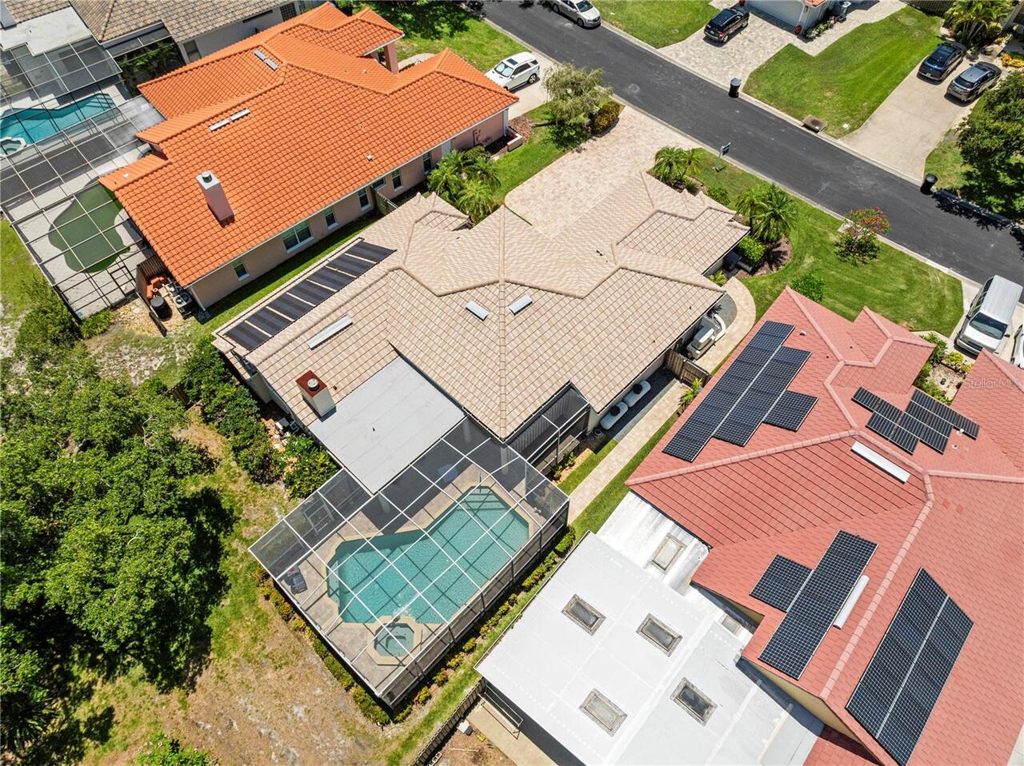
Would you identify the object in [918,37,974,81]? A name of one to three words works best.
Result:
car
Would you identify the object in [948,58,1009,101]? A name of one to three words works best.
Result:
car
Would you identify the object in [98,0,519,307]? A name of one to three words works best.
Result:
house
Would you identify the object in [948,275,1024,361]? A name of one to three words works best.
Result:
van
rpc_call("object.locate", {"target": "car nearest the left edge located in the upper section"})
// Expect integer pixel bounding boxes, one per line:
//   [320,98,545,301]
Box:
[480,45,544,89]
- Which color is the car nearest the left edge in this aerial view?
white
